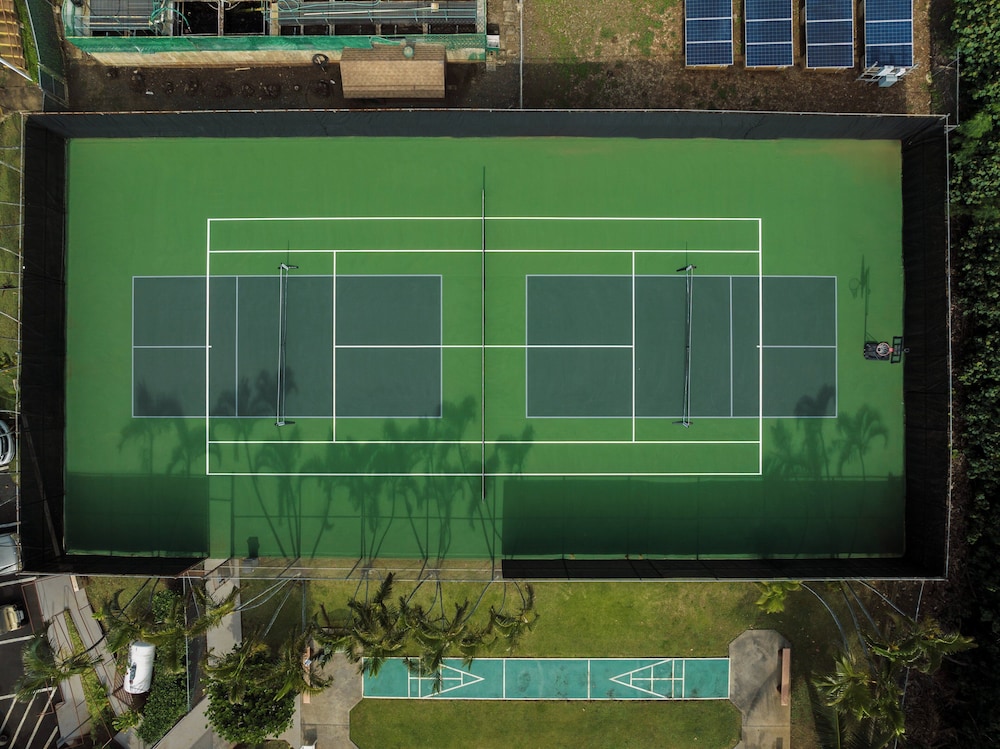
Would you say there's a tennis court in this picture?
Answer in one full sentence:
Yes, the frame does contain a tennis court.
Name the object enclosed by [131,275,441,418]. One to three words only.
sports court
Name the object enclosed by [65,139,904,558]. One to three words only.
tennis court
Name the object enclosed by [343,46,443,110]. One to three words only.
shed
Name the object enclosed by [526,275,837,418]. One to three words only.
sports court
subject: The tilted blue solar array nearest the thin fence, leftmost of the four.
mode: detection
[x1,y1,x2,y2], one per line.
[683,0,734,72]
